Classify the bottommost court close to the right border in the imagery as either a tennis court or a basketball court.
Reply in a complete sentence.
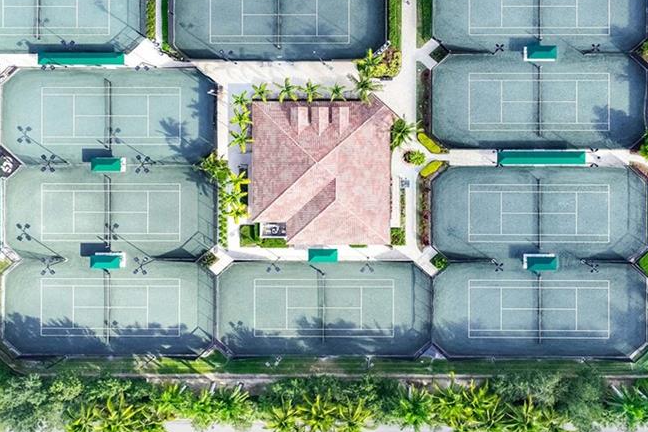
Looking closely, the bottommost court close to the right border is a tennis court.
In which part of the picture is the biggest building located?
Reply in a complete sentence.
The biggest building appears toward the center of the photo.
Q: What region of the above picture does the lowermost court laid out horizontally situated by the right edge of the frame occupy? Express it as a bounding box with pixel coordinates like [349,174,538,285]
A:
[434,261,647,359]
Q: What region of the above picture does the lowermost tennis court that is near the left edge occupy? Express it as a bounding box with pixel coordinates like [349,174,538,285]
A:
[3,259,217,356]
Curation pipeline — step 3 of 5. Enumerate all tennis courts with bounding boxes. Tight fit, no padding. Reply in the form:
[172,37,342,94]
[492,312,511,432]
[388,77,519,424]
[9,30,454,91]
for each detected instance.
[174,0,385,59]
[434,261,647,359]
[2,68,214,164]
[3,259,217,356]
[435,53,647,148]
[218,261,432,358]
[0,0,145,52]
[4,164,215,259]
[435,166,647,261]
[434,0,647,53]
